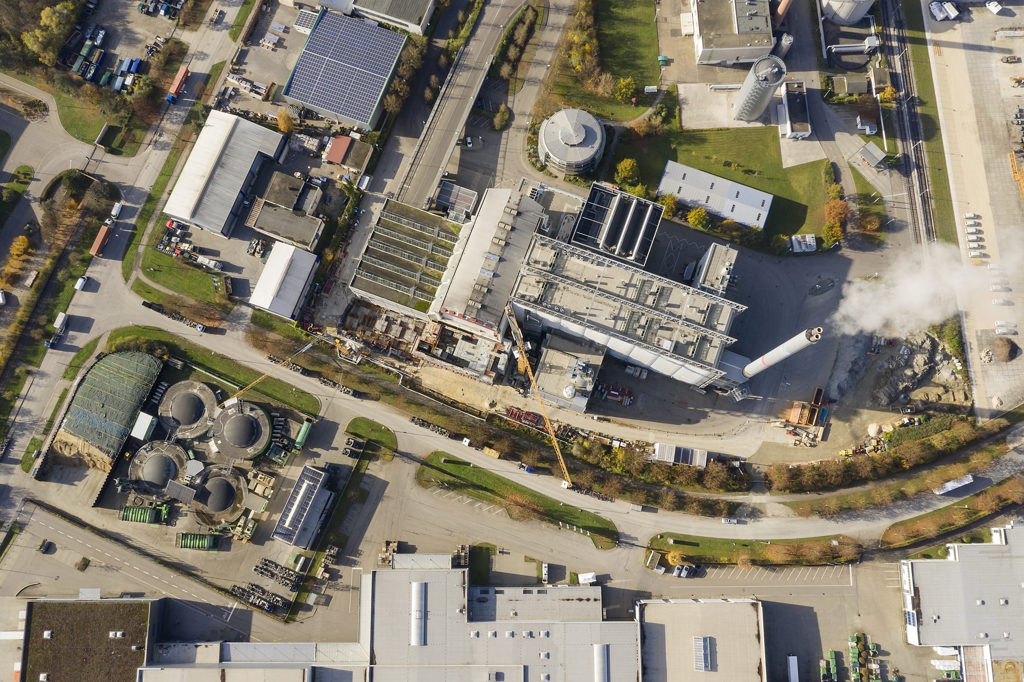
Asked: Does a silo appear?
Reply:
Yes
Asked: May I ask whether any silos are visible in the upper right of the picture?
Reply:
Yes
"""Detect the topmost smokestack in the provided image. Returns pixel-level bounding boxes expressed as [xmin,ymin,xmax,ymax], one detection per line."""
[773,0,794,37]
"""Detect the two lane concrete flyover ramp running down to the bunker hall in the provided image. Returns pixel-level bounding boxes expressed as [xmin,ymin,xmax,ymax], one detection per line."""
[394,0,524,203]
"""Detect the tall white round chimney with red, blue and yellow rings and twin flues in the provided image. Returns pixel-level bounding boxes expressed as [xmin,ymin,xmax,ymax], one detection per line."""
[749,329,814,379]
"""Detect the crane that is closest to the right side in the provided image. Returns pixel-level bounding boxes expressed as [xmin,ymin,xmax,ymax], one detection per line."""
[503,304,573,487]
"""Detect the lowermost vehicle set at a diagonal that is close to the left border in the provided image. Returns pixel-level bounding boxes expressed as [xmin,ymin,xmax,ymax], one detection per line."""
[39,540,51,556]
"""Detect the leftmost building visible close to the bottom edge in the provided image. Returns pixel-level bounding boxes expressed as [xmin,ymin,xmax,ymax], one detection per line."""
[5,589,166,682]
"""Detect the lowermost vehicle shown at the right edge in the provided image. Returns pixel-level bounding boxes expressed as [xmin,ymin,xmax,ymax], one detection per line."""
[933,475,978,498]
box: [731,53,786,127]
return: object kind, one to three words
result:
silo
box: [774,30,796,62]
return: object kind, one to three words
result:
silo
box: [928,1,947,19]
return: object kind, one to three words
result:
vehicle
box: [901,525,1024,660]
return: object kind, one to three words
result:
building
